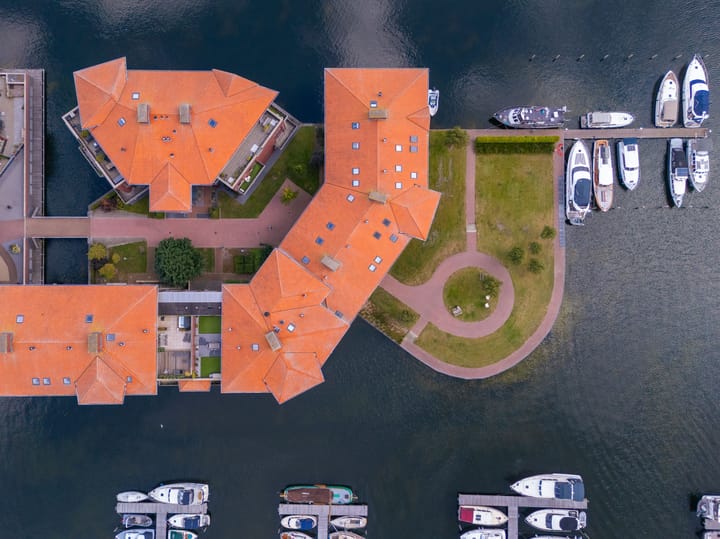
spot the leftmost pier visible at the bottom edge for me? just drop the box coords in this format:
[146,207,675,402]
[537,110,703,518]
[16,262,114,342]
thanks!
[112,502,209,539]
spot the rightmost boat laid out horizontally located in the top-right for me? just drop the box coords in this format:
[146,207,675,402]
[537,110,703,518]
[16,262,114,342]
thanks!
[572,111,641,130]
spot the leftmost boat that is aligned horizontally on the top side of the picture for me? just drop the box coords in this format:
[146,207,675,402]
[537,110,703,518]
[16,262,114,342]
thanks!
[486,106,573,131]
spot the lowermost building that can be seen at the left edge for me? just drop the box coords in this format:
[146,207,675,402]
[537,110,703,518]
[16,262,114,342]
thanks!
[0,285,163,404]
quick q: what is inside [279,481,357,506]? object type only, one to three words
vessel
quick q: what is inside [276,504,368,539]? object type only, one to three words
pier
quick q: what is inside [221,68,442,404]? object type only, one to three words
building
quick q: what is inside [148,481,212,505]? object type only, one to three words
boat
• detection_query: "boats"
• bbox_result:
[167,512,210,530]
[117,491,148,502]
[168,528,197,539]
[526,508,579,532]
[614,137,642,207]
[330,514,367,539]
[461,526,507,539]
[579,511,588,526]
[458,505,508,526]
[486,106,573,131]
[591,138,613,212]
[148,481,212,505]
[120,513,152,528]
[510,473,586,502]
[115,527,155,539]
[692,493,720,519]
[330,528,366,539]
[429,89,439,116]
[561,138,590,227]
[281,514,317,531]
[685,137,714,206]
[652,70,681,129]
[281,529,314,539]
[572,111,641,130]
[666,137,690,208]
[678,55,708,129]
[701,529,720,539]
